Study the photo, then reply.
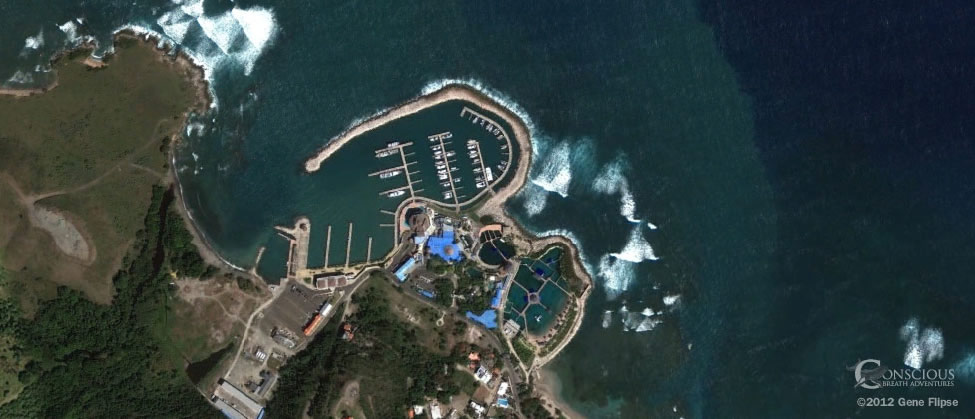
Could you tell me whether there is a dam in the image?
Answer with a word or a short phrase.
No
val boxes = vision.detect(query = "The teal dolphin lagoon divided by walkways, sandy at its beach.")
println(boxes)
[505,247,570,336]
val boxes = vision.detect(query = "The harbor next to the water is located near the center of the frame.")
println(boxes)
[256,84,531,268]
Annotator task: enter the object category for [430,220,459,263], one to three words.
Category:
building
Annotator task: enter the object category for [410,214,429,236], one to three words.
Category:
building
